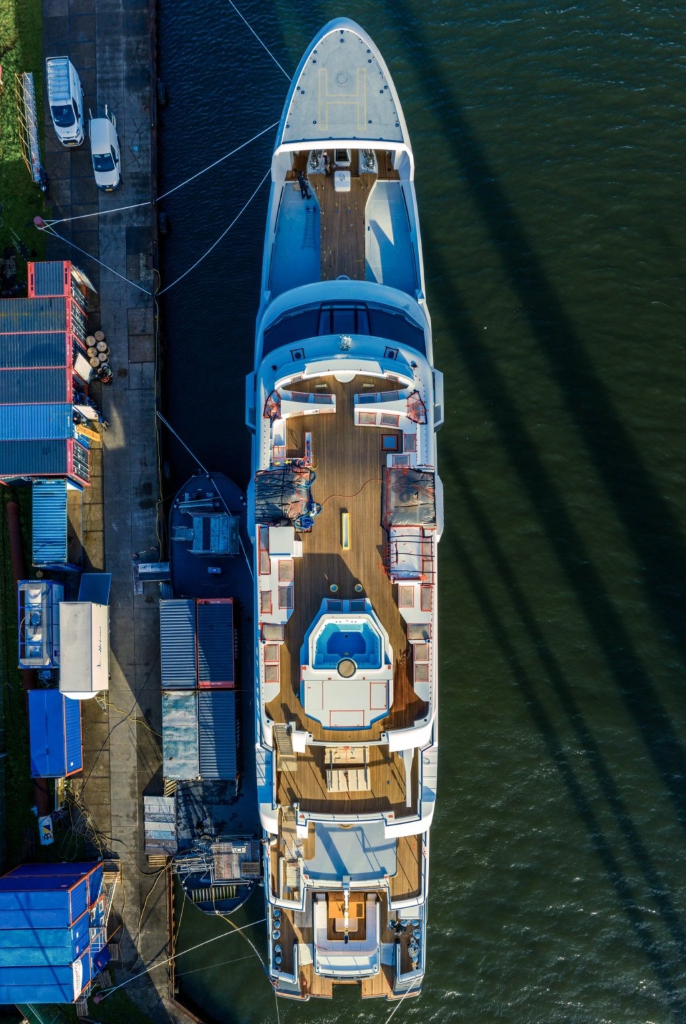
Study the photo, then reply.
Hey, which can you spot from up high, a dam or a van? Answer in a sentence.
The one in the frame is a van.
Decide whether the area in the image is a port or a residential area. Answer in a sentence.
The area seen from above is a port.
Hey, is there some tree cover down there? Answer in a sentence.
No, there's no tree cover in this view.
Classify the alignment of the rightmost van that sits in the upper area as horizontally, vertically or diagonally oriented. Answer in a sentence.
The rightmost van that sits in the upper area has been laid out vertically relative to the frame.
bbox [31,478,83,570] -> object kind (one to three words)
shipping container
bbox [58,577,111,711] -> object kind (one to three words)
trailer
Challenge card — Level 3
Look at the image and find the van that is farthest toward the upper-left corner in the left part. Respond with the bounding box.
[44,47,87,142]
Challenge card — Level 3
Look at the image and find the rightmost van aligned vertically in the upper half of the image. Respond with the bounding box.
[85,98,125,188]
